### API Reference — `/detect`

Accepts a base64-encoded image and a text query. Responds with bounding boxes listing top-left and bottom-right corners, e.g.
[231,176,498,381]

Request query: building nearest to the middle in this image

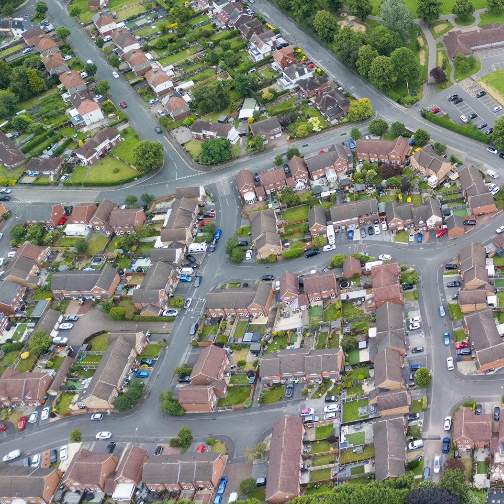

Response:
[247,211,286,260]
